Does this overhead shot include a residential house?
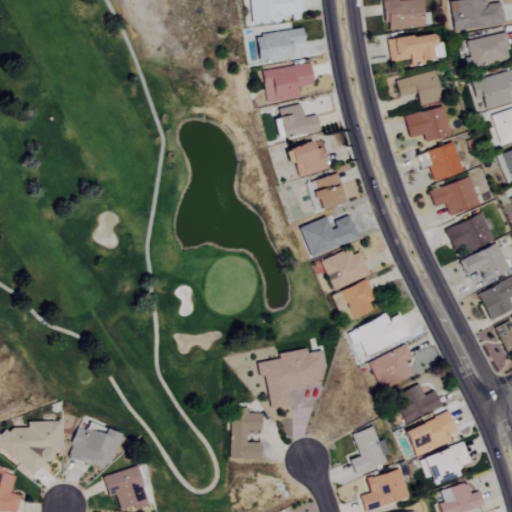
Yes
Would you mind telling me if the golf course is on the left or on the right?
left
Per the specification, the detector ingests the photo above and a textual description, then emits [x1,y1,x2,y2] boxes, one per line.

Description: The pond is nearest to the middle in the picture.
[176,121,287,309]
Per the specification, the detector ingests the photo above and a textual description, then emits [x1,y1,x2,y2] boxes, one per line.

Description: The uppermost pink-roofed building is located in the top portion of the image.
[262,63,314,102]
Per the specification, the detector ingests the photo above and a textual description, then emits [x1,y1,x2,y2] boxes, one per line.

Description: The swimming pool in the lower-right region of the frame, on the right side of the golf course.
[399,437,414,458]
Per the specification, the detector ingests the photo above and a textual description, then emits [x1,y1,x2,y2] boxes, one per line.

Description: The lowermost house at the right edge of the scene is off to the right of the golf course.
[442,482,486,512]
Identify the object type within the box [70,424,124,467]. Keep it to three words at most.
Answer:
house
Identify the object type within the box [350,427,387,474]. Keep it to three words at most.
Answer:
house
